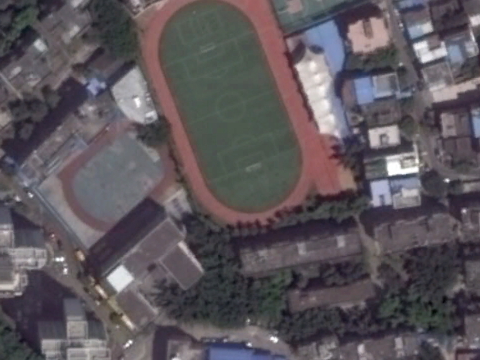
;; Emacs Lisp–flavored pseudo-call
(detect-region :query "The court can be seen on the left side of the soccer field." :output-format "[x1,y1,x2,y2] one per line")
[71,133,164,221]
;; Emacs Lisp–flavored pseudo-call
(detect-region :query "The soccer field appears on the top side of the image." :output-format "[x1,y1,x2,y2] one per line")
[163,0,302,213]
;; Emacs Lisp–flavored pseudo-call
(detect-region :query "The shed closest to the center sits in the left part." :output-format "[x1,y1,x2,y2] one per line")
[165,187,193,221]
